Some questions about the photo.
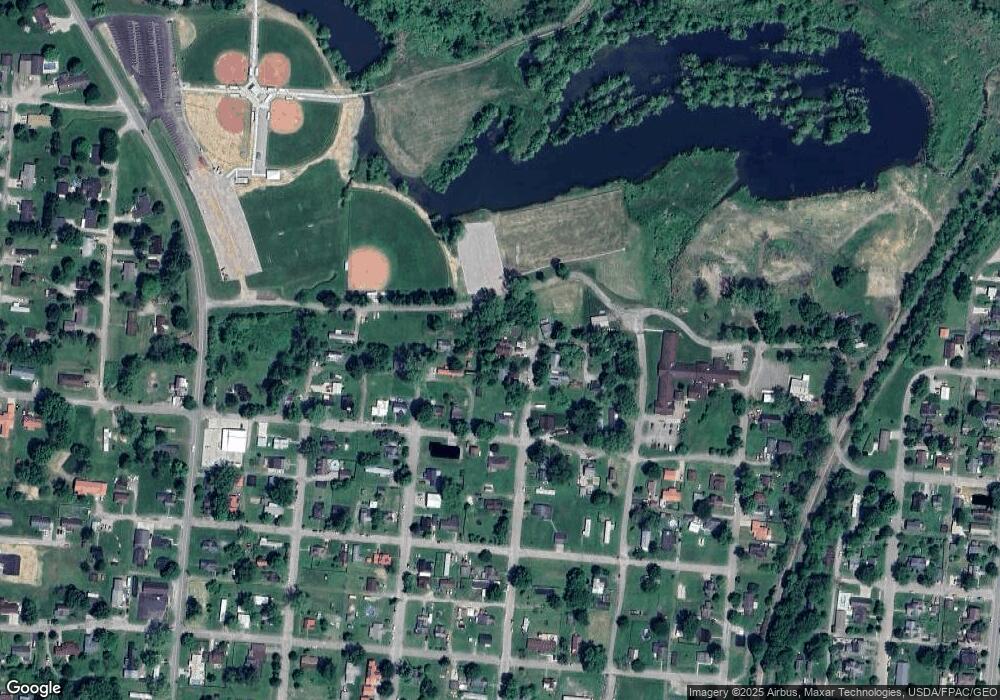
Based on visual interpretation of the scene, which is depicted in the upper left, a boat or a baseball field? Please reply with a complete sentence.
Visible in the upper left is a baseball field.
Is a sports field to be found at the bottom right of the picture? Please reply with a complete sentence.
No, the scene shows no sports field at the bottom right of the picture.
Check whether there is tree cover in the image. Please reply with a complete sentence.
Yes, the picture does contain tree cover.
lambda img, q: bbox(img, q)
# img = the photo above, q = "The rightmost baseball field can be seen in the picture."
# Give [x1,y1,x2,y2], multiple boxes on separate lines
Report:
[348,183,450,293]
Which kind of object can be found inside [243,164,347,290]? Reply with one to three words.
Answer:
sports field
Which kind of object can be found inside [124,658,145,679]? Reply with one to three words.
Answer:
house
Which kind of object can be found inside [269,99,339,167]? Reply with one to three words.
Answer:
baseball field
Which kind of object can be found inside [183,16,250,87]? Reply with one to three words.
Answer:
baseball field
